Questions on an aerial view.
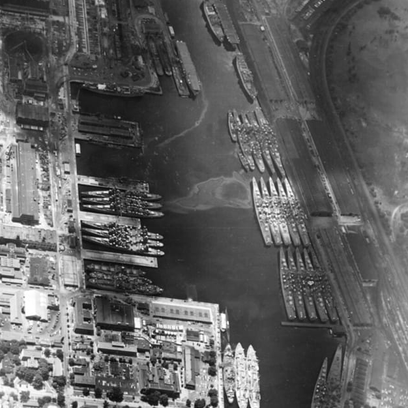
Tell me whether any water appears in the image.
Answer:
Yes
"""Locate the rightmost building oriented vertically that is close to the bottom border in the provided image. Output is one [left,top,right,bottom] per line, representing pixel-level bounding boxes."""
[351,360,369,403]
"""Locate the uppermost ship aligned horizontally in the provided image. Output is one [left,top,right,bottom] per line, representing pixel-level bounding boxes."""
[82,81,144,98]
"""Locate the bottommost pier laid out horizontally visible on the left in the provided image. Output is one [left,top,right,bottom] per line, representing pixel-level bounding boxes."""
[81,249,158,269]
